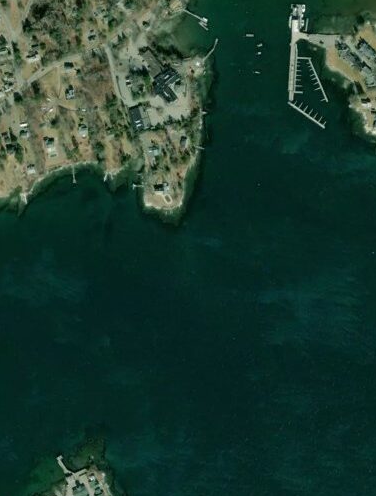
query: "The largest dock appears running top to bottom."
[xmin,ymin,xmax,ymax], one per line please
[288,20,311,101]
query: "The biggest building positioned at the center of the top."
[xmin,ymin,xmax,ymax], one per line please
[140,50,177,103]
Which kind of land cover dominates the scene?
water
